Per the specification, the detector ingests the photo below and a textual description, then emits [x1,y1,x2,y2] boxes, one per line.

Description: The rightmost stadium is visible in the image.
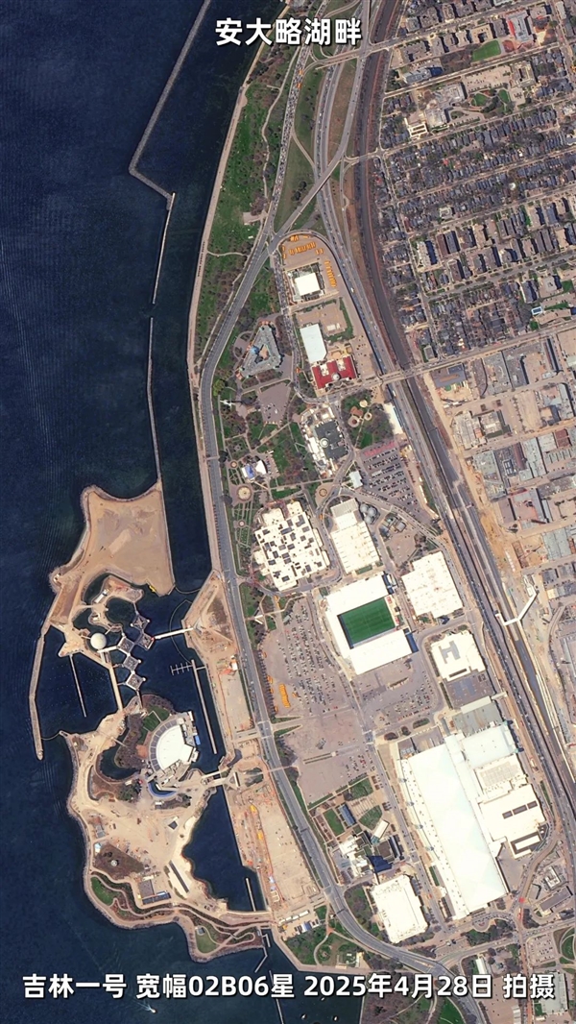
[324,571,413,673]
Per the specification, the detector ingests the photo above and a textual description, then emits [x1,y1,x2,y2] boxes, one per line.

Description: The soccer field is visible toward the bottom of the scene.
[340,598,395,645]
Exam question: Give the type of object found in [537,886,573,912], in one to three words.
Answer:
shed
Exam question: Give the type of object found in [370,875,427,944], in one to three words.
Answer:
building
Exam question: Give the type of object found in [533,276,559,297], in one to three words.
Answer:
building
